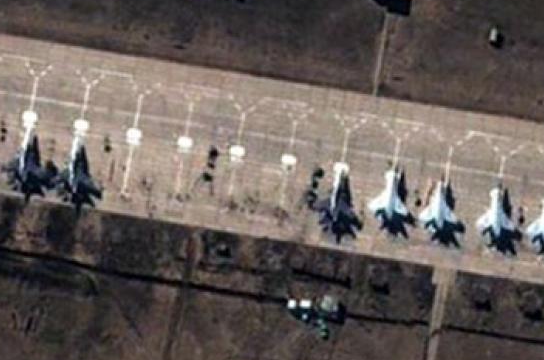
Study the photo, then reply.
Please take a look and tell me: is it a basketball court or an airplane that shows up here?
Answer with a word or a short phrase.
airplane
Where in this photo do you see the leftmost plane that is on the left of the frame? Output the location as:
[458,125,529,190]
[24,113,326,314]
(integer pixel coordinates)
[2,122,46,188]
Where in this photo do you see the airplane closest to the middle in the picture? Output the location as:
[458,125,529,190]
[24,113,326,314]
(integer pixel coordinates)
[311,165,355,230]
